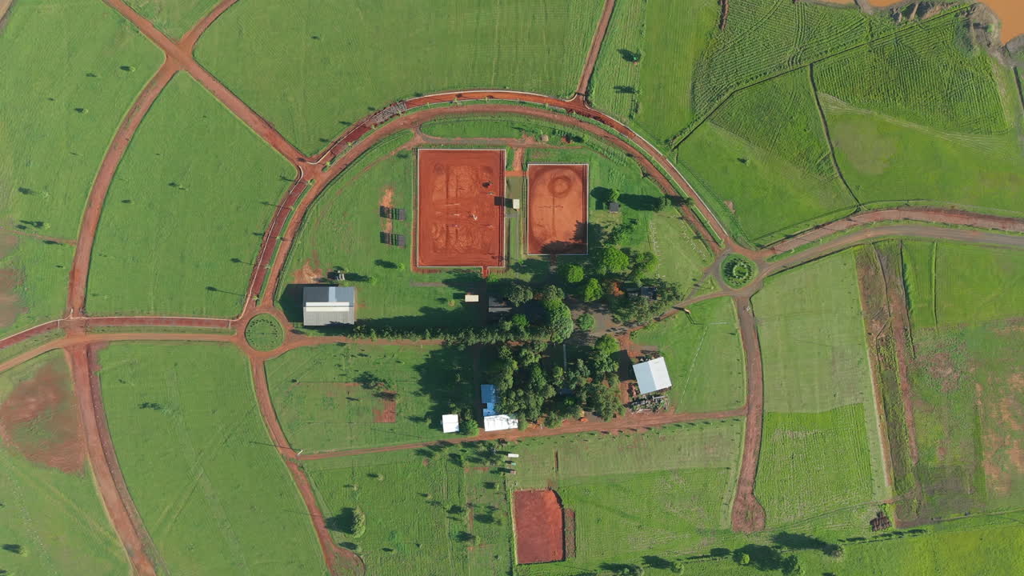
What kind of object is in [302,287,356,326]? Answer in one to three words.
building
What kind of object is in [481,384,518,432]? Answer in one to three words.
house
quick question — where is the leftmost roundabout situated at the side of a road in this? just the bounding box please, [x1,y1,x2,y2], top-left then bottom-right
[235,302,294,362]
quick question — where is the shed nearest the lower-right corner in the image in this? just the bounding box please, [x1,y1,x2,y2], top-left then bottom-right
[632,357,672,394]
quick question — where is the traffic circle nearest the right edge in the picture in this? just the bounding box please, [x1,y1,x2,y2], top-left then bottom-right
[712,243,767,299]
